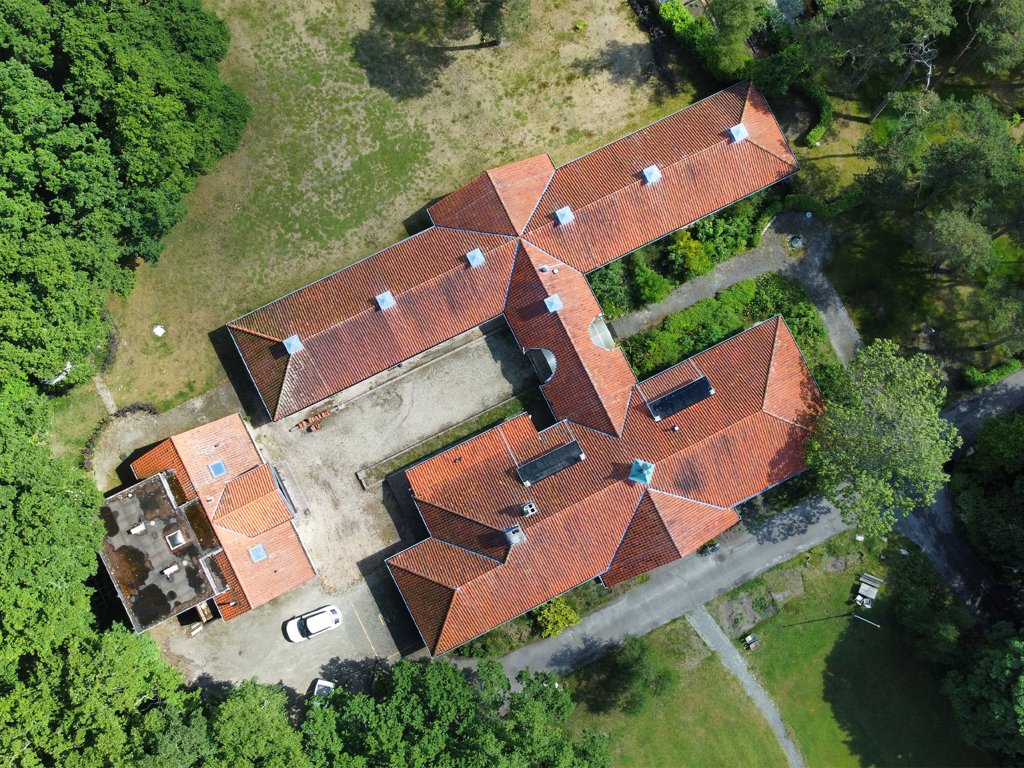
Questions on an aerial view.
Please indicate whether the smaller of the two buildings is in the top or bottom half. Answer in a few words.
bottom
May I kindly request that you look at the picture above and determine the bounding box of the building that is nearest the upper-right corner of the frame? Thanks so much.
[226,77,844,658]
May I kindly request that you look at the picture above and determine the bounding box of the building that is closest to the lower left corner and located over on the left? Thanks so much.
[84,411,318,635]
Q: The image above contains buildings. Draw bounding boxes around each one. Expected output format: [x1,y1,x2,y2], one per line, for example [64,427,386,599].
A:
[84,411,318,635]
[226,77,844,658]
